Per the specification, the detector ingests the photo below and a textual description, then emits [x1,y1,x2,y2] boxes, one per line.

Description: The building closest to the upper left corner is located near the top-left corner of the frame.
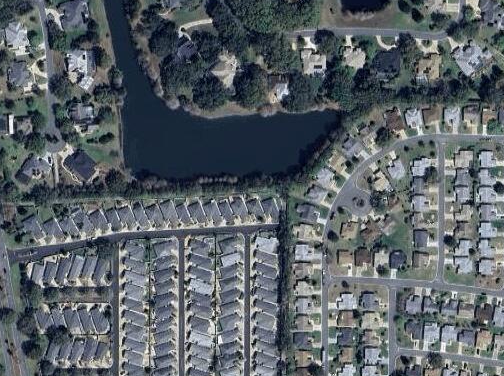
[4,21,32,48]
